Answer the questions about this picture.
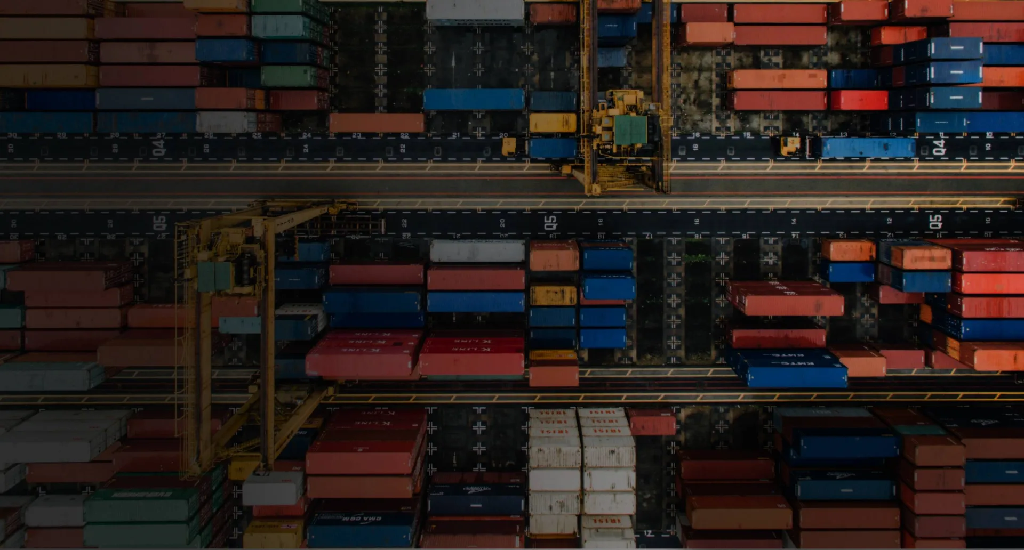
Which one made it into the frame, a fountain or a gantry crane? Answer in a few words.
gantry crane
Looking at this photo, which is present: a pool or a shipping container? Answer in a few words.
shipping container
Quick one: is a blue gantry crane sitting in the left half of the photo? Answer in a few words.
No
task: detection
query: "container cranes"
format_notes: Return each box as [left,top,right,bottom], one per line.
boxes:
[180,201,355,476]
[548,0,673,197]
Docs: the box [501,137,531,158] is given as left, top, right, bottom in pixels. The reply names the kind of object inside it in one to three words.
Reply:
truck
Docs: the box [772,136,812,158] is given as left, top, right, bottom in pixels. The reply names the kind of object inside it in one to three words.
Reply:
truck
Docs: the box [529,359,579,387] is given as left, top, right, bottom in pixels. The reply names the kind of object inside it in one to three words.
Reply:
shipping container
